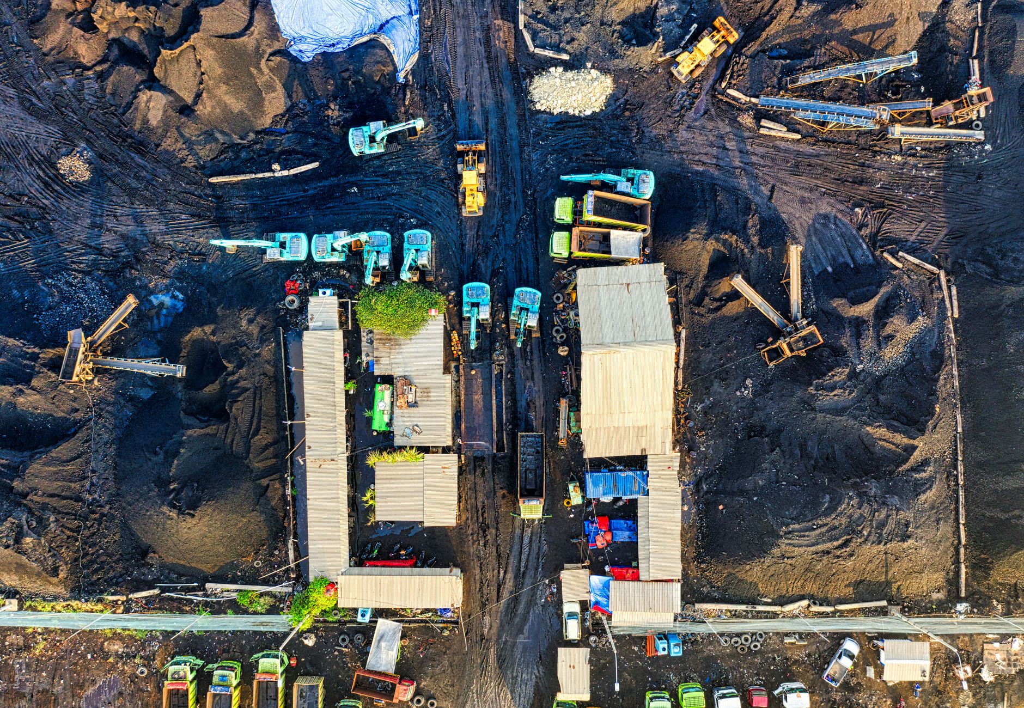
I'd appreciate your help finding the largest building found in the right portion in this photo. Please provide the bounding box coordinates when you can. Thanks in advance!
[575,263,676,457]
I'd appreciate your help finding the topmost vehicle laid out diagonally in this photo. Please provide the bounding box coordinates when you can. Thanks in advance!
[671,15,731,89]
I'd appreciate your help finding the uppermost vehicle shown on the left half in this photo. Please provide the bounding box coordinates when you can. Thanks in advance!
[350,114,422,163]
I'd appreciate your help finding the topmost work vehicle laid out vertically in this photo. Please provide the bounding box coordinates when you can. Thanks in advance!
[457,143,488,217]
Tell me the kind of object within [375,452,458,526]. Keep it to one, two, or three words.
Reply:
house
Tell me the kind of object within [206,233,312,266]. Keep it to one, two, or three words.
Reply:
work vehicle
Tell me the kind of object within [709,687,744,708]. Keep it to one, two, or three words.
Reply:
truck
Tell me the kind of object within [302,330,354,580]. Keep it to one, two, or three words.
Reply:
shed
